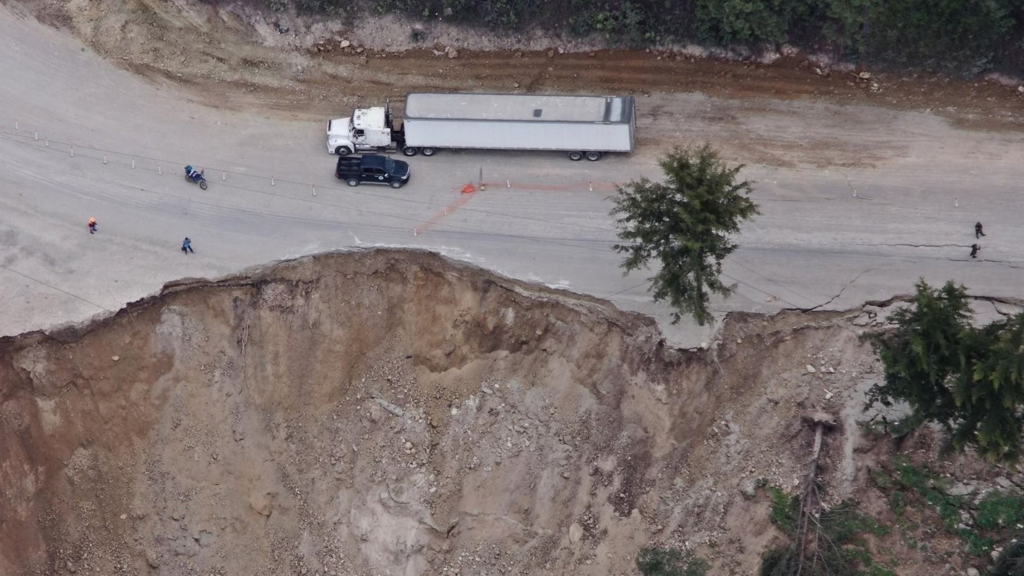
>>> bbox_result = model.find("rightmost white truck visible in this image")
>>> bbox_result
[323,91,637,161]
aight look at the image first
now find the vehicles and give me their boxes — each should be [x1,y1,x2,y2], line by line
[183,172,208,190]
[334,151,410,188]
[323,91,637,161]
